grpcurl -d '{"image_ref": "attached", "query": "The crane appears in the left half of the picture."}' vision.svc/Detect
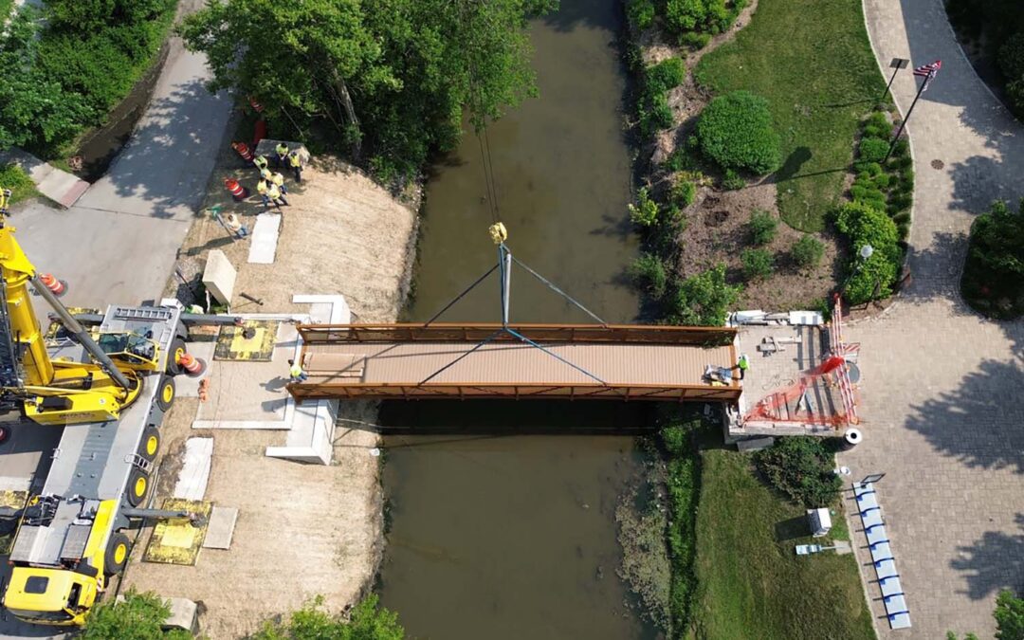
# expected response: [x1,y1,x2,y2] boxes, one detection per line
[0,225,257,631]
